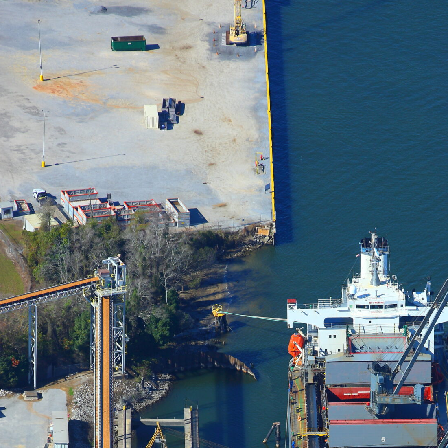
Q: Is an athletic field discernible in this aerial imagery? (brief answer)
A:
No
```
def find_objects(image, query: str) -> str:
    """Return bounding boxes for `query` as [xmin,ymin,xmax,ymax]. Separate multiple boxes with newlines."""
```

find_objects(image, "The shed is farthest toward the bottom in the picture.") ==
[50,409,69,448]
